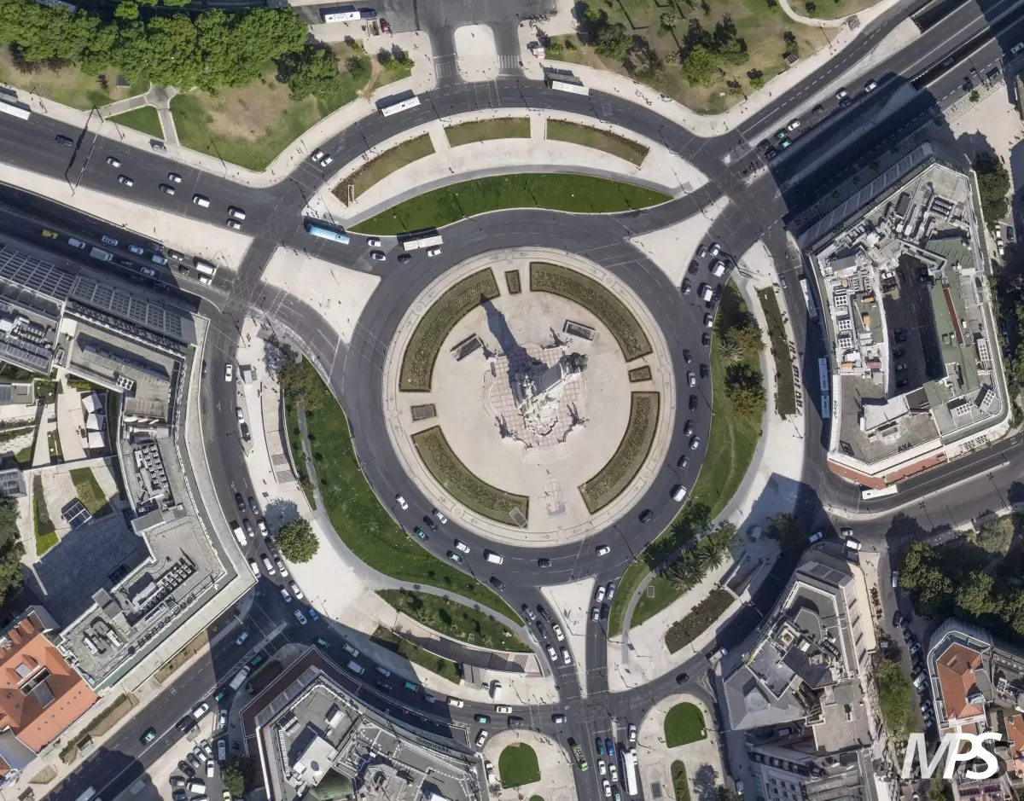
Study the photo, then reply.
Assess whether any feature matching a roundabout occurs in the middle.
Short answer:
Yes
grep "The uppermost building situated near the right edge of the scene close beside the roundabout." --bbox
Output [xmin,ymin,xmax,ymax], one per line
[799,140,1016,488]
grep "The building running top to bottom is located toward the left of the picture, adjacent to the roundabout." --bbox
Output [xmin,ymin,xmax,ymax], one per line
[54,281,256,693]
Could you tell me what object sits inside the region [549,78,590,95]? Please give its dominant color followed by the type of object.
white vehicle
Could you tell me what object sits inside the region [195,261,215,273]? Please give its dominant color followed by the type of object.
white vehicle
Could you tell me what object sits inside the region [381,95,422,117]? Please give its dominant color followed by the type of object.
white bus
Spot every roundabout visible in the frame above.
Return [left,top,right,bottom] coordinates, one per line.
[338,210,711,588]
